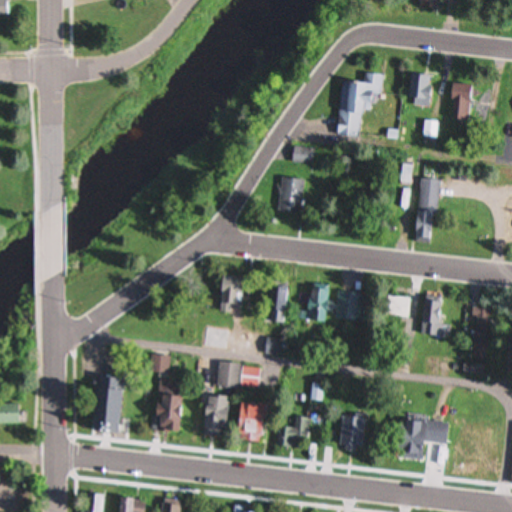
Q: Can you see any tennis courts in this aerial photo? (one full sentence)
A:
No, no tennis court can be seen from above.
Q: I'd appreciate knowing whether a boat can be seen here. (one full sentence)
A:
No, the frame has no boat in it.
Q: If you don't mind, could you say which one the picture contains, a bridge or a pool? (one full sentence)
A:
I can see a bridge in this picture.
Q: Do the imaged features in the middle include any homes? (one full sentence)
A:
Yes, there is a home in the middle.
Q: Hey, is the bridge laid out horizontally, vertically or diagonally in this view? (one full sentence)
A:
The bridge has been laid out vertically relative to the frame.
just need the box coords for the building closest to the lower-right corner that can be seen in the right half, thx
[399,412,449,462]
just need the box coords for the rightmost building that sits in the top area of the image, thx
[452,82,474,120]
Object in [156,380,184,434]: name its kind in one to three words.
house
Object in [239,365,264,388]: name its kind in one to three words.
shed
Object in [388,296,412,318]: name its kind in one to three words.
building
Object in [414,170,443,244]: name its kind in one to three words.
house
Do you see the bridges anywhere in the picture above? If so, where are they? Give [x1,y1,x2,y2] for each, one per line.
[34,196,66,282]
